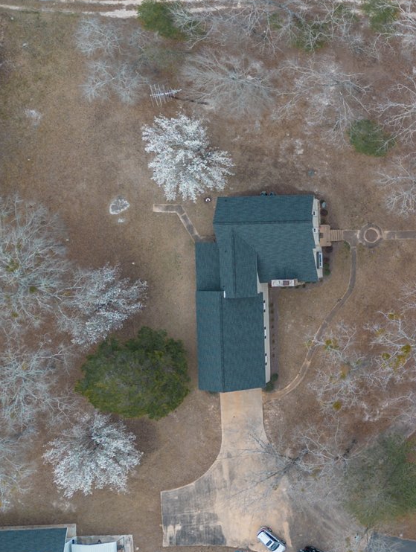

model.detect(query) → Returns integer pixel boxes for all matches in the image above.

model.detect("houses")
[196,195,349,393]
[0,526,73,552]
